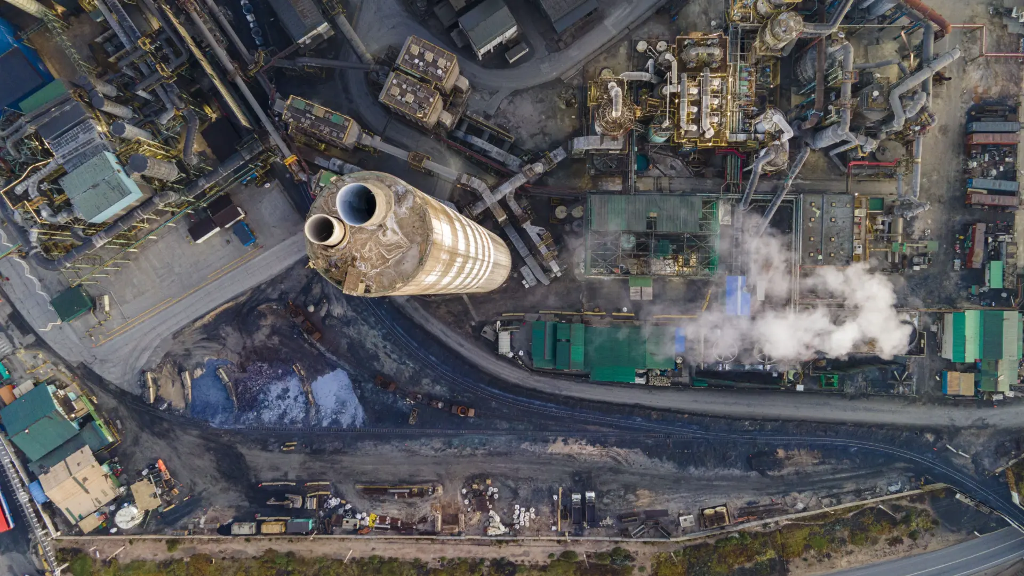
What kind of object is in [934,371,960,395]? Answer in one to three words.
shed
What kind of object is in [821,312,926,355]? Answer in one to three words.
cooling tower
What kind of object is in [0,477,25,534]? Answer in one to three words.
trailer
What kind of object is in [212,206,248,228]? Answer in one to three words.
building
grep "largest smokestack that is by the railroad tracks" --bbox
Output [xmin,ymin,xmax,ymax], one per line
[302,169,511,299]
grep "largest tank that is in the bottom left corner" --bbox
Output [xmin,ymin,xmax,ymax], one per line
[113,499,148,529]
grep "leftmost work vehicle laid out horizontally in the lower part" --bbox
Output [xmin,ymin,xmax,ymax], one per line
[269,496,301,509]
